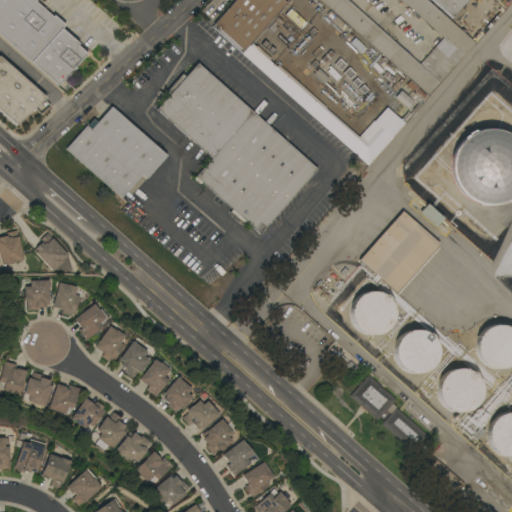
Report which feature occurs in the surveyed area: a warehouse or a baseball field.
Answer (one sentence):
The image shows a warehouse.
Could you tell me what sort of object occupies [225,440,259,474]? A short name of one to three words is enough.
house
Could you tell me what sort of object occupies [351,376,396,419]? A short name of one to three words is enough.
building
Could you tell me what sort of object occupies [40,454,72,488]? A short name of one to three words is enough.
house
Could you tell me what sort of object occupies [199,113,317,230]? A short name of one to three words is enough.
warehouse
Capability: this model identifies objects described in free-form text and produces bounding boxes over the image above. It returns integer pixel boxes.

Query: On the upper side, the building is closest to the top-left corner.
[0,0,66,63]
